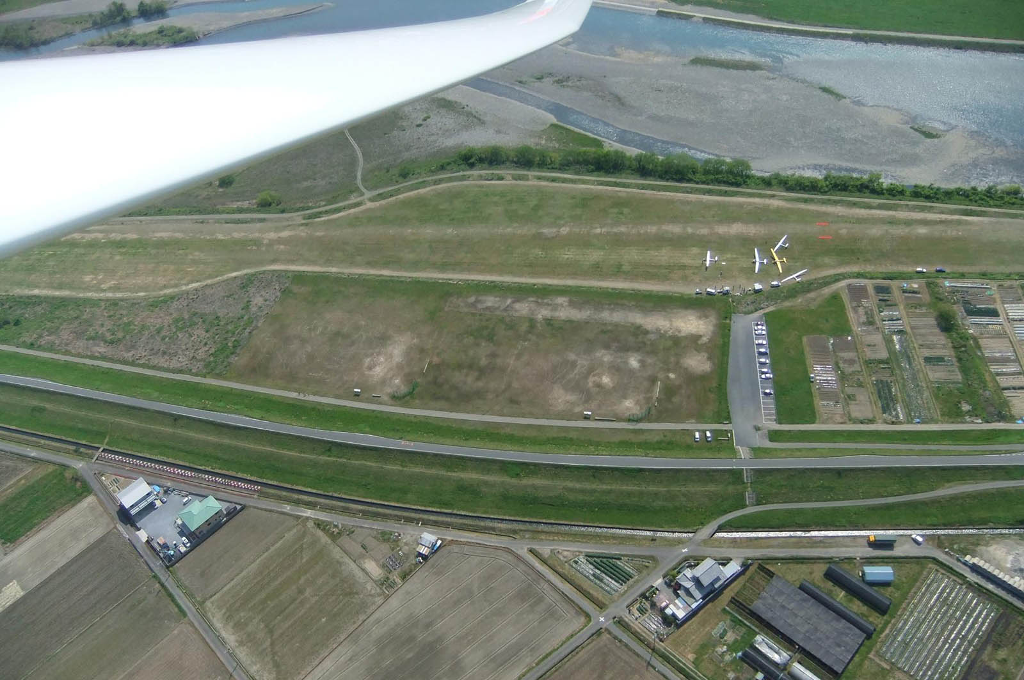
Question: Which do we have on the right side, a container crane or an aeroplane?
aeroplane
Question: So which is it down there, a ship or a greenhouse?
greenhouse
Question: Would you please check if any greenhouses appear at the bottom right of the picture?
Yes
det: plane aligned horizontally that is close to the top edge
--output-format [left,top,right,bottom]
[0,0,600,259]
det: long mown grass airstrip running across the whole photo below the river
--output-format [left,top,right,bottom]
[0,179,1024,299]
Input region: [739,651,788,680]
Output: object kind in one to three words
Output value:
greenhouse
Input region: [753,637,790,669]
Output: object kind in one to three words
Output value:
greenhouse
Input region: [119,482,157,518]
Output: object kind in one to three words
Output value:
building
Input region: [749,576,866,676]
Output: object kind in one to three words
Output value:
house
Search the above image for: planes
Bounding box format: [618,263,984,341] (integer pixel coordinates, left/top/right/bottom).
[702,251,718,266]
[776,234,788,253]
[770,248,786,272]
[0,0,600,259]
[752,248,767,272]
[780,271,809,280]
